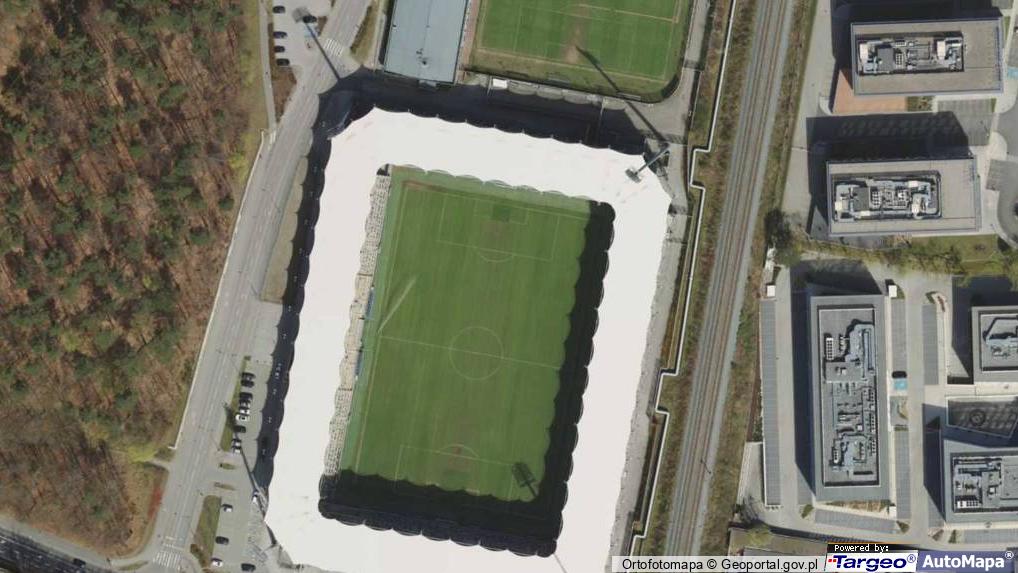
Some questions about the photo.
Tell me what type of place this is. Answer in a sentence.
What you see here is a sports ground.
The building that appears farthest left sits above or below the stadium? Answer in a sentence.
In the image, the building that appears farthest left sits above the stadium.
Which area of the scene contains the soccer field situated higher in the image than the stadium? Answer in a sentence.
You can find the soccer field situated higher in the image than the stadium in the top area of the picture.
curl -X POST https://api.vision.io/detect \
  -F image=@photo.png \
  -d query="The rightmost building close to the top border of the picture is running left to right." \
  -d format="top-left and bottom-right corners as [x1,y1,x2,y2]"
[851,17,1003,96]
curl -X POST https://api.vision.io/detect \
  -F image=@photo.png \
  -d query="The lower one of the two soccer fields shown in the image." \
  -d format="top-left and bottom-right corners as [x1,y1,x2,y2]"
[333,164,617,541]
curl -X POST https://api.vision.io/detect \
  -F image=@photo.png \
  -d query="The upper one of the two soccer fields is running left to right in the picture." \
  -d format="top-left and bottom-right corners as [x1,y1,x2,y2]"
[471,0,698,96]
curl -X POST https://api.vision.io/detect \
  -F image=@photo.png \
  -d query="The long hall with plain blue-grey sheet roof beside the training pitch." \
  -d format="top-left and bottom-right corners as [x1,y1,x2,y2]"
[385,0,471,88]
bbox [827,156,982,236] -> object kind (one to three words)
building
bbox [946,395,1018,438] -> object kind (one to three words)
building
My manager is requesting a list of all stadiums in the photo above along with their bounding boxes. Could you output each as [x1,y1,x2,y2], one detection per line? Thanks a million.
[259,103,673,573]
